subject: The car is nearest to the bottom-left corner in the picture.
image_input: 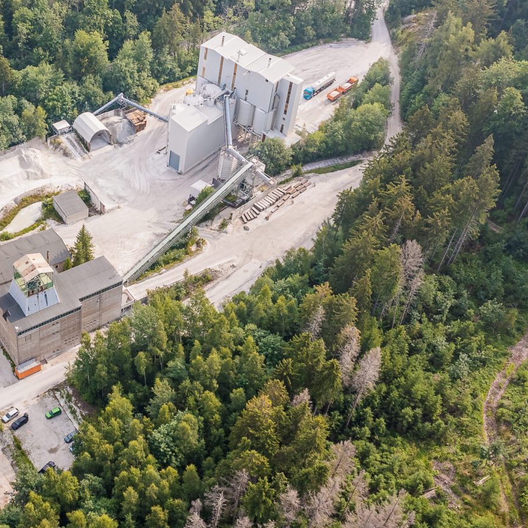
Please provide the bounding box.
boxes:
[37,458,57,474]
